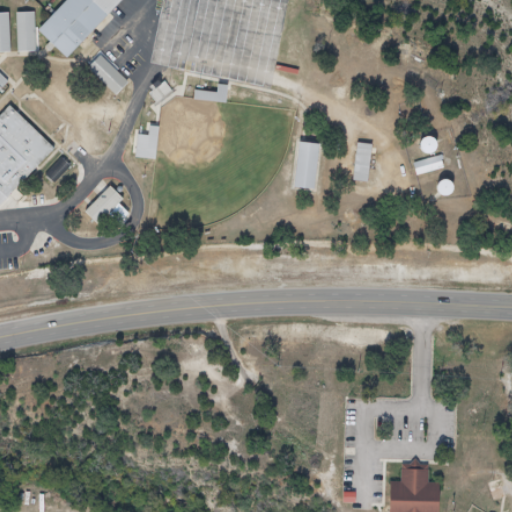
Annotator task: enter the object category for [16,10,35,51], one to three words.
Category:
building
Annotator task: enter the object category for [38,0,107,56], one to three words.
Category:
building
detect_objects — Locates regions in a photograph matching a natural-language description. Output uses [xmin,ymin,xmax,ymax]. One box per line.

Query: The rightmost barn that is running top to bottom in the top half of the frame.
[354,142,372,181]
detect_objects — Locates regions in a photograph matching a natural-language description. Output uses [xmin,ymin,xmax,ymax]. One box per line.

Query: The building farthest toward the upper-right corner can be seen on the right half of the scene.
[414,154,446,175]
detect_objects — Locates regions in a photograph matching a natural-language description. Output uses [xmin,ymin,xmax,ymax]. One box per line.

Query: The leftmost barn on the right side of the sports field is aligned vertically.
[295,141,320,190]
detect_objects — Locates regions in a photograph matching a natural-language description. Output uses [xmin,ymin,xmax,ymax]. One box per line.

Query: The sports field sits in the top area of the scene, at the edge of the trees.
[150,98,296,229]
